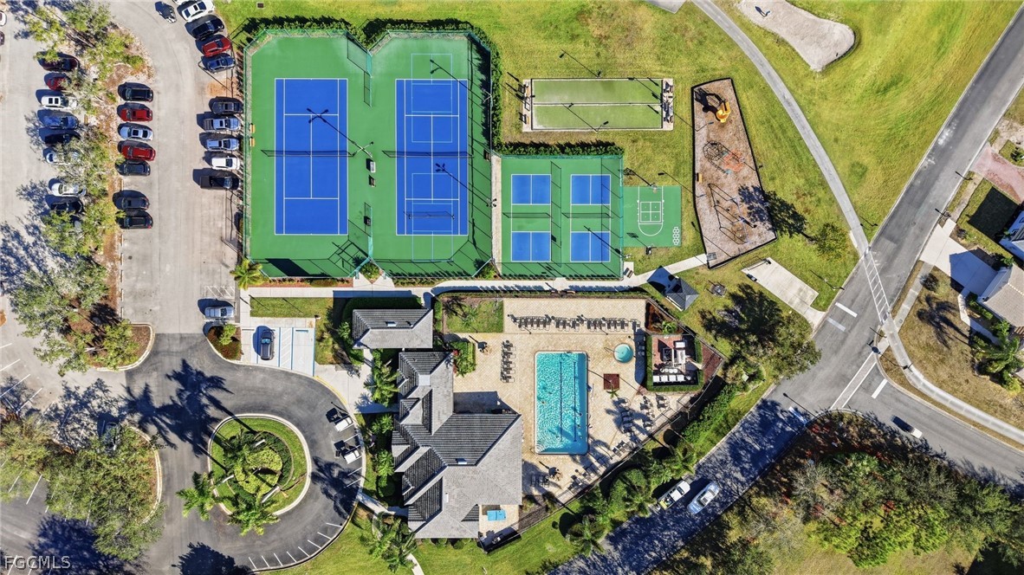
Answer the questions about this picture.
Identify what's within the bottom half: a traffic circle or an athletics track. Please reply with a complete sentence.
What appears within the bottom half is a traffic circle.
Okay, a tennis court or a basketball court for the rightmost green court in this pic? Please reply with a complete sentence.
Looking closely, the rightmost green court is a basketball court.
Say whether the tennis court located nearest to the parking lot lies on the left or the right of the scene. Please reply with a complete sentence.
You can find the tennis court located nearest to the parking lot on the left side of the picture.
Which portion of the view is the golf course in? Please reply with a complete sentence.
The golf course sits in the top right section of the image.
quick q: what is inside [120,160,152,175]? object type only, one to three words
car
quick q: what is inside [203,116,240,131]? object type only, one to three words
vehicle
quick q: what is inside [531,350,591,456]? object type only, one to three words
swimming pool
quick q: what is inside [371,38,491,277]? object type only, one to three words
tennis court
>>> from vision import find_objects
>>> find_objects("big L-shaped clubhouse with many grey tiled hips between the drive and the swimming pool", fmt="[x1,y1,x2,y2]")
[392,352,522,539]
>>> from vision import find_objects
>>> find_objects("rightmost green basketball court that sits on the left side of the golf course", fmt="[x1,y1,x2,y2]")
[623,186,682,247]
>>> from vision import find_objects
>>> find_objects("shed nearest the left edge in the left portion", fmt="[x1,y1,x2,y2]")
[352,309,433,349]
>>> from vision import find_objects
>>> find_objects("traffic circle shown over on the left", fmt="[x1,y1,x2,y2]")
[207,413,312,526]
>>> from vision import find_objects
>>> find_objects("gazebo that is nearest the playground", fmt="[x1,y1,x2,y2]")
[660,276,701,312]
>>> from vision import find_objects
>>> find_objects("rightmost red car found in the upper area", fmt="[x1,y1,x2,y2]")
[200,37,234,56]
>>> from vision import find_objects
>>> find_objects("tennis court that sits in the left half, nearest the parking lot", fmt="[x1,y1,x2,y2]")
[251,37,371,277]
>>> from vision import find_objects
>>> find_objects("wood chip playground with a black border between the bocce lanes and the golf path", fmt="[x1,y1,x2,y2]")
[691,77,777,268]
